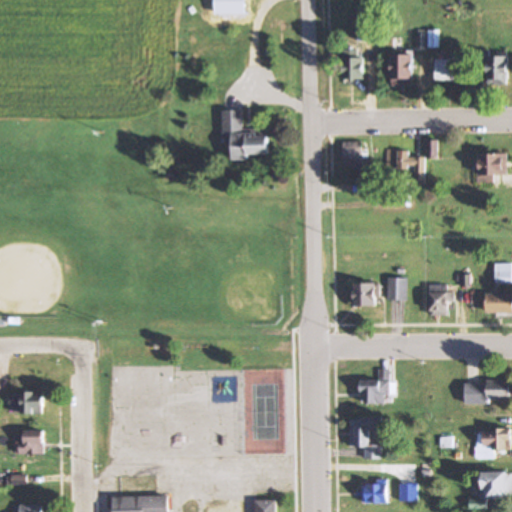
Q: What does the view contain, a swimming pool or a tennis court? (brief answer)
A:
tennis court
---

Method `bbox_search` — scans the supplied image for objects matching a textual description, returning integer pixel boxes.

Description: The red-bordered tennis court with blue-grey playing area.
[246,370,284,454]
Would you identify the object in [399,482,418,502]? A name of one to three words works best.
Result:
building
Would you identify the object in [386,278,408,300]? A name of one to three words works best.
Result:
building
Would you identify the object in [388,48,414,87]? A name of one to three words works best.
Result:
house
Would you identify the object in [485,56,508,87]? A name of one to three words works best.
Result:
house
